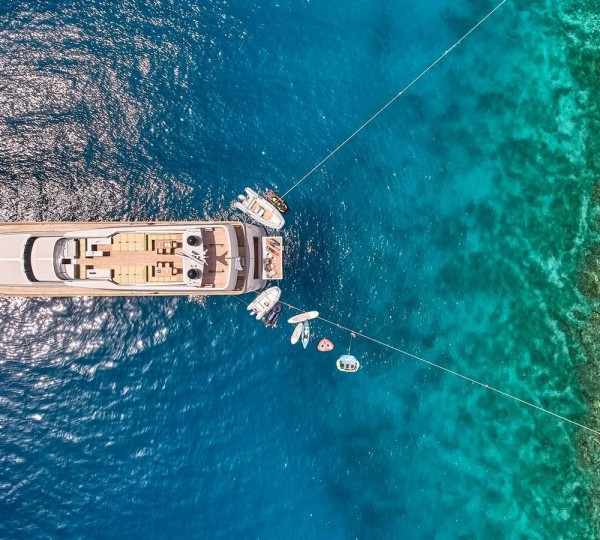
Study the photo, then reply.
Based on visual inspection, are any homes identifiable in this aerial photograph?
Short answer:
No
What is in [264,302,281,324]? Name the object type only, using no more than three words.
boat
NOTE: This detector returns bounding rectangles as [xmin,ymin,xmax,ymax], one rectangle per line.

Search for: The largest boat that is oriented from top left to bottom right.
[236,187,284,230]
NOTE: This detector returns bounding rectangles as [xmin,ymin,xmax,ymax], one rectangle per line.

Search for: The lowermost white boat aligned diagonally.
[247,286,279,319]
